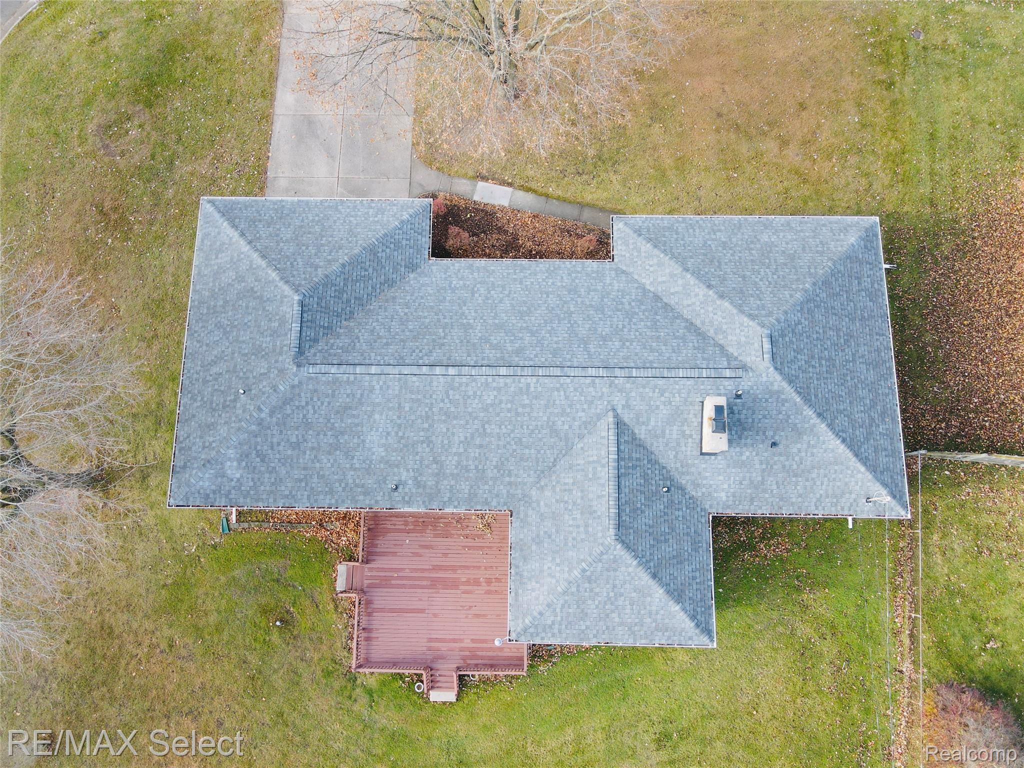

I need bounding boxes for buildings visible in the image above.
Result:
[168,198,910,646]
